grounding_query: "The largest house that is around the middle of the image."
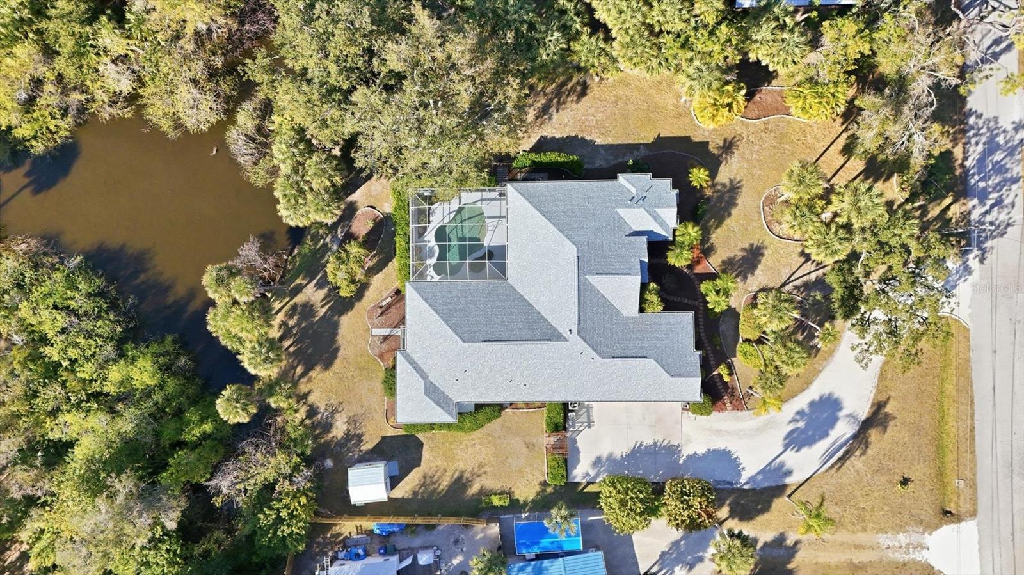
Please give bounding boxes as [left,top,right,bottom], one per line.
[396,173,704,424]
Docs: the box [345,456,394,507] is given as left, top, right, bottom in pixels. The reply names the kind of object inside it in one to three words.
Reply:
shed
